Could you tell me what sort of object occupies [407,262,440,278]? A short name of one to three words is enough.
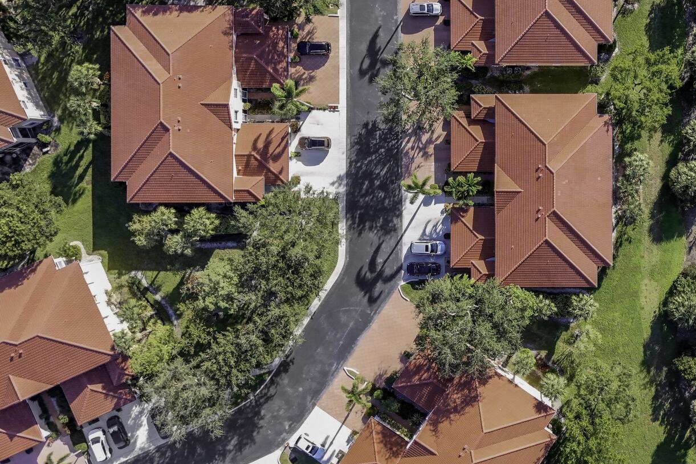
car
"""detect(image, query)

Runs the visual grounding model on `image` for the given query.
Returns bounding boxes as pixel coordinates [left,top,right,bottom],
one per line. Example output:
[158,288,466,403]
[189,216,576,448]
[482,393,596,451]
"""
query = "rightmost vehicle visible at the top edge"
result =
[409,0,443,16]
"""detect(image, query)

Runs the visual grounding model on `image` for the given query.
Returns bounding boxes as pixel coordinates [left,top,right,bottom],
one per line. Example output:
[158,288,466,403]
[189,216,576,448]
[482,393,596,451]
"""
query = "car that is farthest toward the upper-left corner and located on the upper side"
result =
[297,40,330,56]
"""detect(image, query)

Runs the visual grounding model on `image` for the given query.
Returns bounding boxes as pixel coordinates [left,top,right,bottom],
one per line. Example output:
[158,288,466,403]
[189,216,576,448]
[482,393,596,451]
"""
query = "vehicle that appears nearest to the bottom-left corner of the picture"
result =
[90,428,111,462]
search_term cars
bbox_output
[297,40,330,56]
[90,428,111,462]
[409,0,443,16]
[298,136,331,151]
[294,434,326,460]
[407,262,440,278]
[411,239,445,256]
[108,415,129,448]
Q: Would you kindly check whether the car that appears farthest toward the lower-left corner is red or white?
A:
white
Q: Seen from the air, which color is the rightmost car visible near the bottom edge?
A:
white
